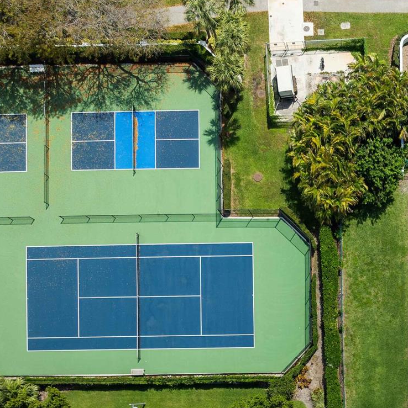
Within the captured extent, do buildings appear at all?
No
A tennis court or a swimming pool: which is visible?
tennis court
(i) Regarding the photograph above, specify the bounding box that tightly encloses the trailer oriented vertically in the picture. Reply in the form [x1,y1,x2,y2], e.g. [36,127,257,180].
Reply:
[276,64,297,106]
